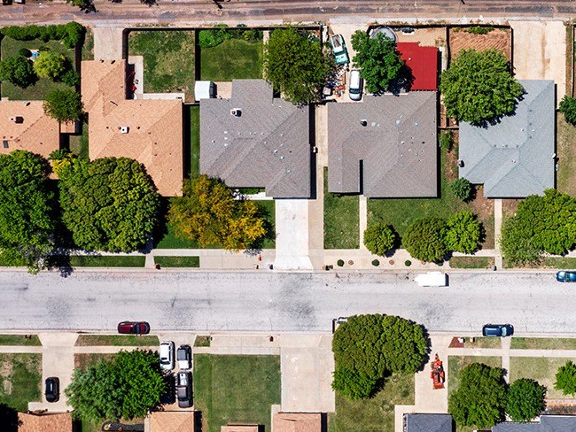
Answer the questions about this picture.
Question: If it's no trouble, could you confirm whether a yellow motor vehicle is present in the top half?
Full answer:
No, the scene shows no yellow motor vehicle in the top half.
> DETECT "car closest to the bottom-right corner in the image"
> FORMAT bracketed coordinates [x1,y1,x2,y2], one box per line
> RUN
[482,323,514,338]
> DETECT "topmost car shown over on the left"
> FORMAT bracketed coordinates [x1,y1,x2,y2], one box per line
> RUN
[119,321,152,336]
